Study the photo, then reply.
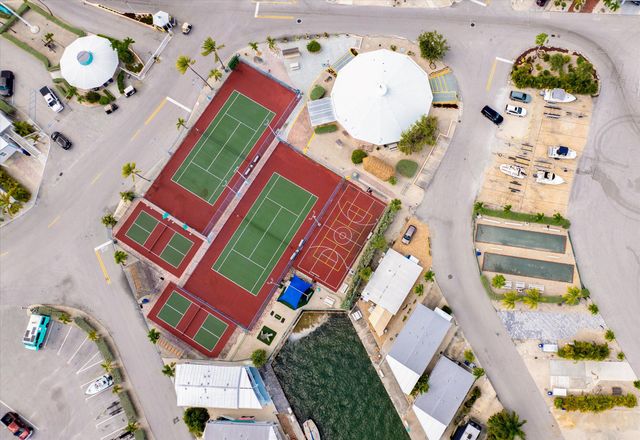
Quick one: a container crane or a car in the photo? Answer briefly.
car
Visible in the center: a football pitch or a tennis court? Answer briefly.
tennis court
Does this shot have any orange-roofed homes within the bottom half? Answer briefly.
No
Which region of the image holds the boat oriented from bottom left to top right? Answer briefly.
bottom left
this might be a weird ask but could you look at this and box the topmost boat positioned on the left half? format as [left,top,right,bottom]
[83,372,115,394]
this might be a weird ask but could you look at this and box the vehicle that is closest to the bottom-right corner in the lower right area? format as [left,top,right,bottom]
[453,415,481,440]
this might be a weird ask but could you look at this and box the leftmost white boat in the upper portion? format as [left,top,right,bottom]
[499,165,531,180]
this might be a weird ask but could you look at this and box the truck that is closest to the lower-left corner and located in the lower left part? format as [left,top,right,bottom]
[4,412,32,439]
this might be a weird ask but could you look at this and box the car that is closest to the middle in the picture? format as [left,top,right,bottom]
[400,222,418,246]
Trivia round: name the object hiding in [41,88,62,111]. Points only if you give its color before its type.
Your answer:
white truck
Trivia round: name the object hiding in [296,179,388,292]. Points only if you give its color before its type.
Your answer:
red basketball court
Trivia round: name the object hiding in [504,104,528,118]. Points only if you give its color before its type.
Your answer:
white vehicle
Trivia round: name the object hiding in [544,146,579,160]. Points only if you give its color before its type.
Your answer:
white boat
